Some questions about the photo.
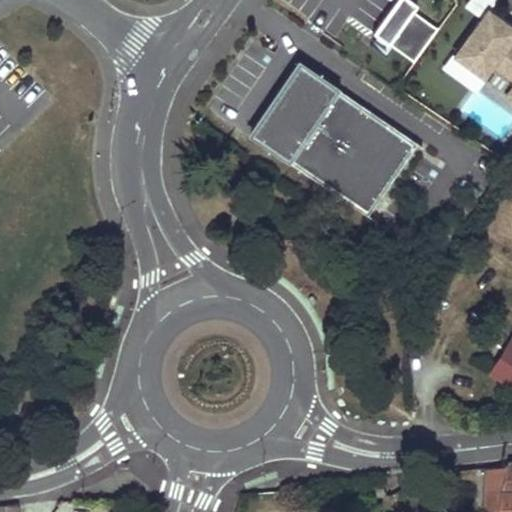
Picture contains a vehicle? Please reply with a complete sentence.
Yes, there is a vehicle in the image.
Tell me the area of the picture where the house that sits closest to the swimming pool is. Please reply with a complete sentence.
The house that sits closest to the swimming pool appears toward the top right of the photo.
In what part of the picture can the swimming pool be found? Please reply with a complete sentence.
Look in the top right portion of the view to spot the swimming pool.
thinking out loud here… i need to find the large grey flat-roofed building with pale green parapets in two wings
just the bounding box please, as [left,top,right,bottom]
[250,63,421,216]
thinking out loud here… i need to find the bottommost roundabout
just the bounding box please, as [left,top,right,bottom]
[117,274,316,473]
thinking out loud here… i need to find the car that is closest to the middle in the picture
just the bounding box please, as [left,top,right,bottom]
[220,104,240,121]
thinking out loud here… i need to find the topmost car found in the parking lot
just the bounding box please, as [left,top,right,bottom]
[312,6,328,28]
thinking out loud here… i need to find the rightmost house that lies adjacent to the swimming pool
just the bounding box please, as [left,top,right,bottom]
[444,10,512,96]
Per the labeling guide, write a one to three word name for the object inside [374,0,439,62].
house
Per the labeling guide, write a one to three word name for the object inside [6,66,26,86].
car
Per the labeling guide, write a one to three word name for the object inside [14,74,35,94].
car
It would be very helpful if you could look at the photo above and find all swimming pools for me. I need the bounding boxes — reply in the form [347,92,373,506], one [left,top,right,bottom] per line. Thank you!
[458,90,512,139]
